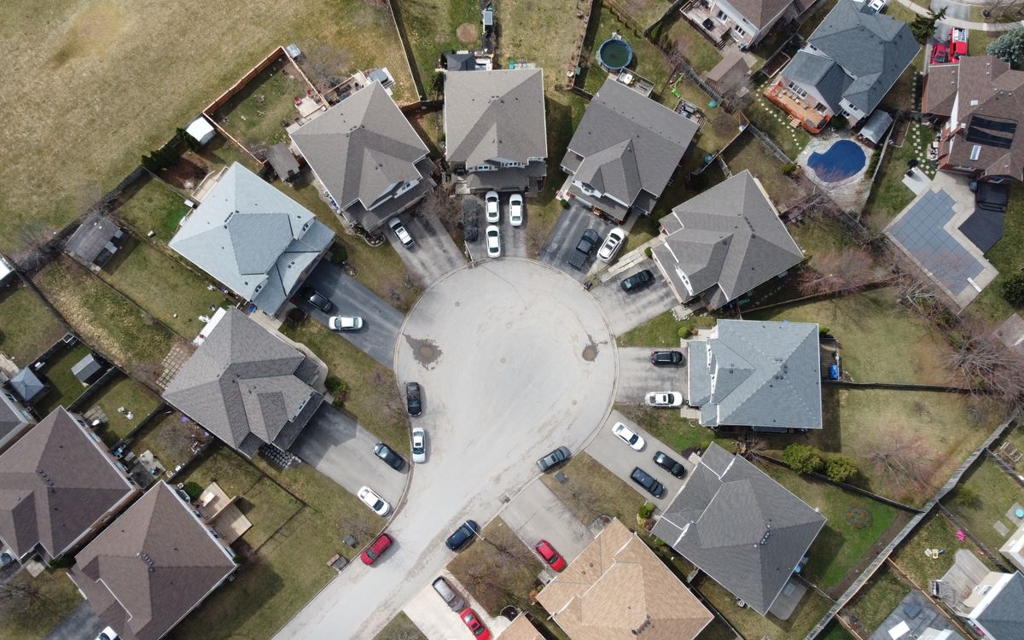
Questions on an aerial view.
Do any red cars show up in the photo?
Yes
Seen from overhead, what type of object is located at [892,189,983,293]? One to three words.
swimming pool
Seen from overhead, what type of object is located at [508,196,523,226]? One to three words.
car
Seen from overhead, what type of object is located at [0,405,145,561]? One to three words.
house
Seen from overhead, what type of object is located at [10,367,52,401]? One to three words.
gazebo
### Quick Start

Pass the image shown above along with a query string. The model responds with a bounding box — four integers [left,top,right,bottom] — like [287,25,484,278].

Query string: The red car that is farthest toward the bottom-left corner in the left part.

[360,532,394,565]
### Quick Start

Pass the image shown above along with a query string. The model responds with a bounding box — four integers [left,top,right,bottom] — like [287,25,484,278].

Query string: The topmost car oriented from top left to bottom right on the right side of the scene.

[612,421,644,451]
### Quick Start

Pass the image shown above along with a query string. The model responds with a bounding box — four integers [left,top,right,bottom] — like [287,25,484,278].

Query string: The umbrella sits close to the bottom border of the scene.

[886,617,907,638]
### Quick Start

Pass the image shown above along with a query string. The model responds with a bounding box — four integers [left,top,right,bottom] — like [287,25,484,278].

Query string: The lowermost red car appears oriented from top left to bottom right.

[460,608,491,640]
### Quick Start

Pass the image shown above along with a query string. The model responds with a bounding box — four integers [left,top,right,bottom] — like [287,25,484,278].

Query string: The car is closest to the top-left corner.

[301,287,334,313]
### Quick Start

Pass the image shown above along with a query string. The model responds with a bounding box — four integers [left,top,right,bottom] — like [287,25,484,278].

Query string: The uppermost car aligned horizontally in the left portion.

[329,316,363,331]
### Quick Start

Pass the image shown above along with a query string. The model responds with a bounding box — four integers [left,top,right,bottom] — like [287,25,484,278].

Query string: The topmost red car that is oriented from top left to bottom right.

[535,539,565,573]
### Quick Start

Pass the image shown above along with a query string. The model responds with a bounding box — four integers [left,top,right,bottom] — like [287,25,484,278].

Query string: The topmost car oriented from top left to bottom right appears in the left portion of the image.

[388,218,416,249]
